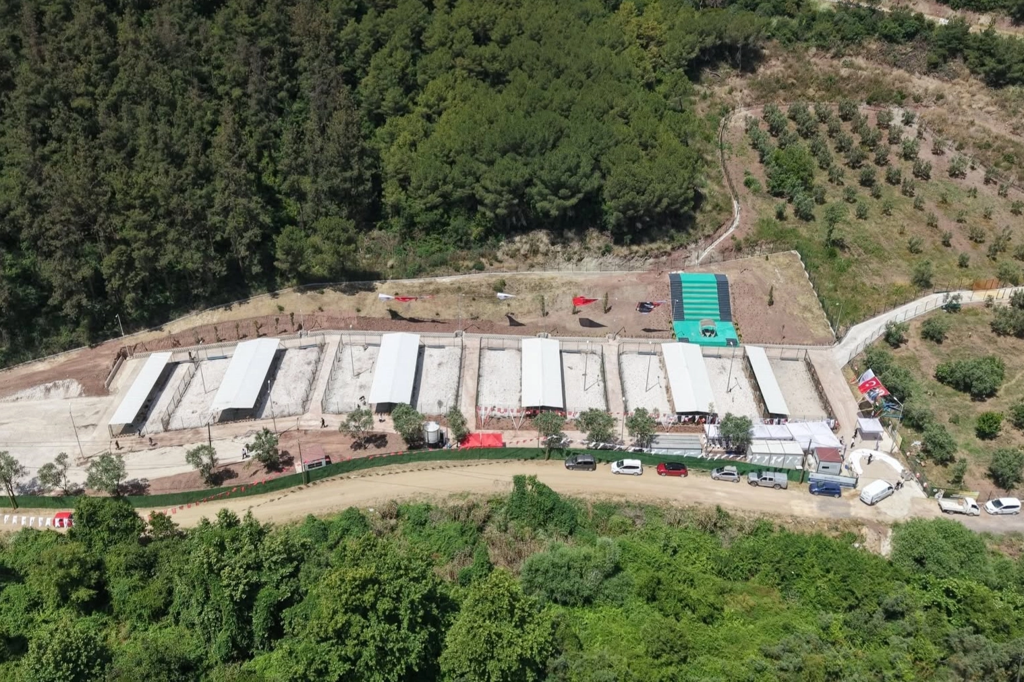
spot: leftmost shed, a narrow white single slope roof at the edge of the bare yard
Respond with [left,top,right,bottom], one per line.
[109,352,175,443]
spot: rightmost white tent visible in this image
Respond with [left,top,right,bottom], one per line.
[855,418,883,442]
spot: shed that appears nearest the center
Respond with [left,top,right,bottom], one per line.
[522,337,563,423]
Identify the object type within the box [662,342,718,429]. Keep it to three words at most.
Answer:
shed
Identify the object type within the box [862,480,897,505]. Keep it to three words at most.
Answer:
vehicle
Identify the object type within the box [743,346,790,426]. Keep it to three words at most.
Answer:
shed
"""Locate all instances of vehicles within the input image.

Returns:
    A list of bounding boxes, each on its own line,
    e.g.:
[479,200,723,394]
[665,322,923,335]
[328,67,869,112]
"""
[942,497,982,516]
[657,461,689,477]
[983,498,1024,515]
[565,453,597,471]
[862,480,897,505]
[810,481,843,498]
[746,470,786,489]
[711,465,742,483]
[610,459,643,476]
